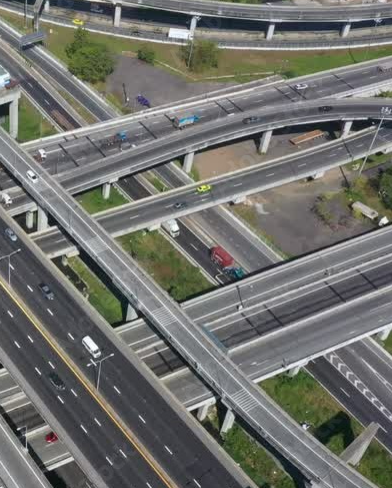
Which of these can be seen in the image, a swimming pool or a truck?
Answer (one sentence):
There is a truck in the scene.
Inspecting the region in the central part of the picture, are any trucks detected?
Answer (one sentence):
Yes, I can see a truck in the central part of the picture.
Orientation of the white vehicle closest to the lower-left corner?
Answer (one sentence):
In this picture, the white vehicle closest to the lower-left corner is oriented diagonally.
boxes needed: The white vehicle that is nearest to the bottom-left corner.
[81,335,102,359]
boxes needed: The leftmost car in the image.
[4,228,19,242]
